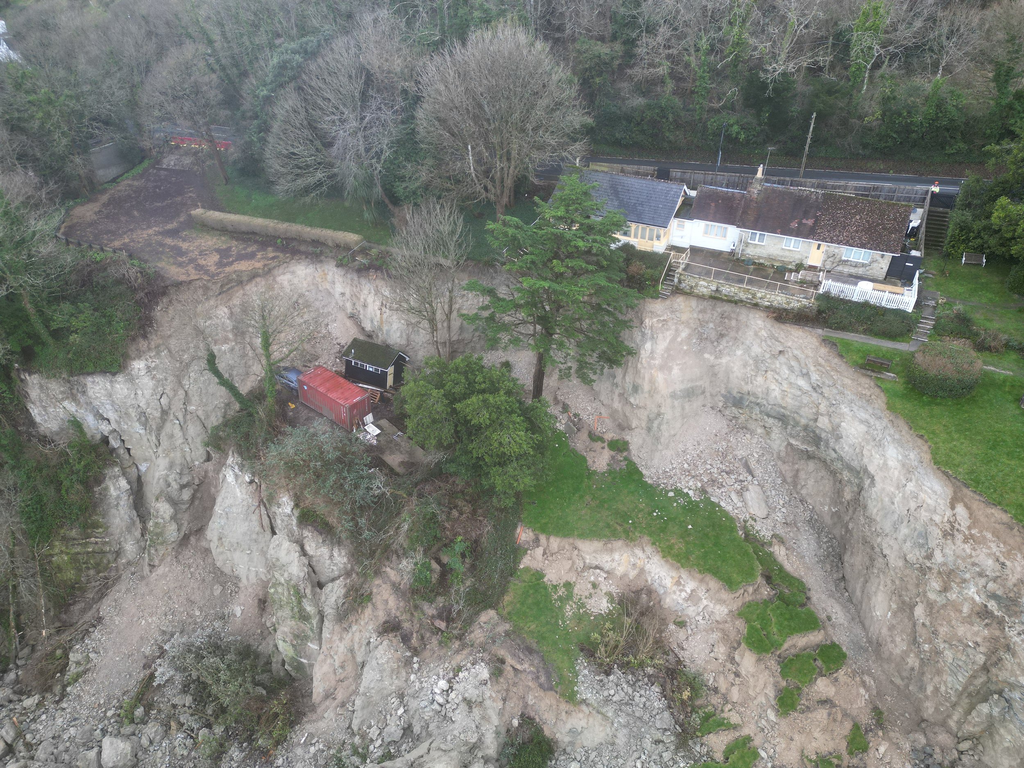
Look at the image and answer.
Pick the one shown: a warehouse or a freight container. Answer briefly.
freight container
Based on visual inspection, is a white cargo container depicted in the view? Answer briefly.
No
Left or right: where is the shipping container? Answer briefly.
left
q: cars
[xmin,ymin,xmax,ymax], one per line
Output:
[281,373,299,393]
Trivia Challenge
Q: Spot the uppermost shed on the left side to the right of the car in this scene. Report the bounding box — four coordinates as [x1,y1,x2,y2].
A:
[338,341,406,390]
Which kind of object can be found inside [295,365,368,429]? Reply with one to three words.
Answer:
shipping container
